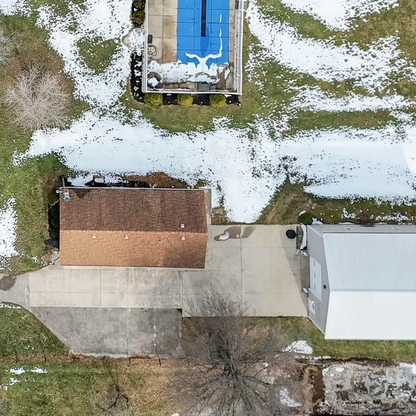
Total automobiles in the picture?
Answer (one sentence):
There are no automobiles in this view.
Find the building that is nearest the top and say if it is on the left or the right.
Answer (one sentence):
The building that is nearest the top is on the left side of the image.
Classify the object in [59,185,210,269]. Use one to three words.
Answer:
building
